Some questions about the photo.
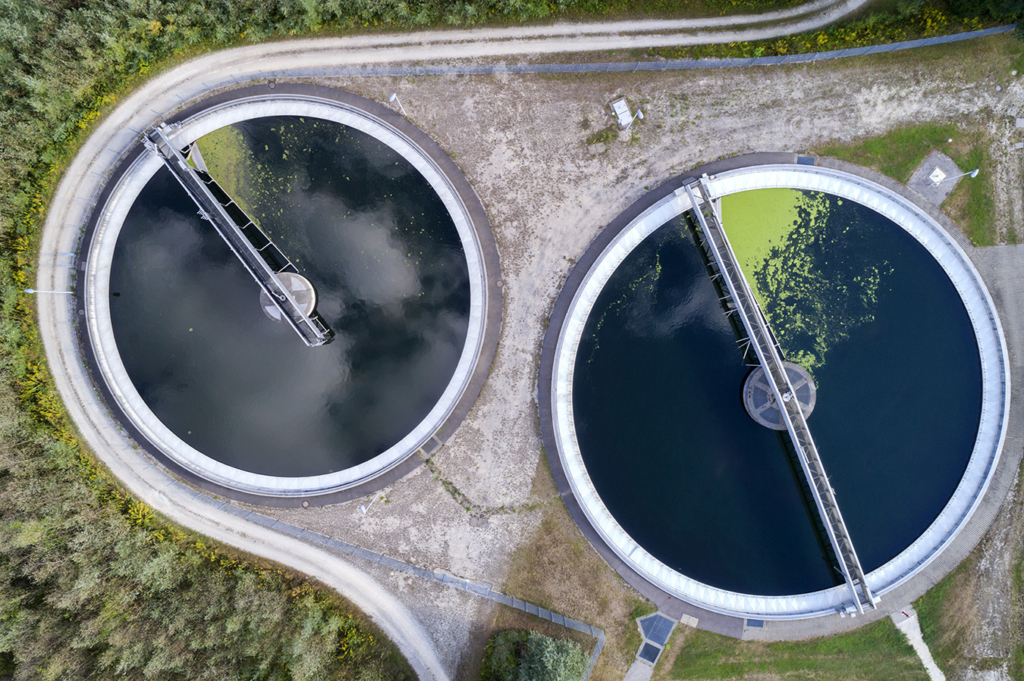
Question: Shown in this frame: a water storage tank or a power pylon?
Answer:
water storage tank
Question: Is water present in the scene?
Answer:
Yes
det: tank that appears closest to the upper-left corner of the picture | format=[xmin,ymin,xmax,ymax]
[84,91,488,495]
